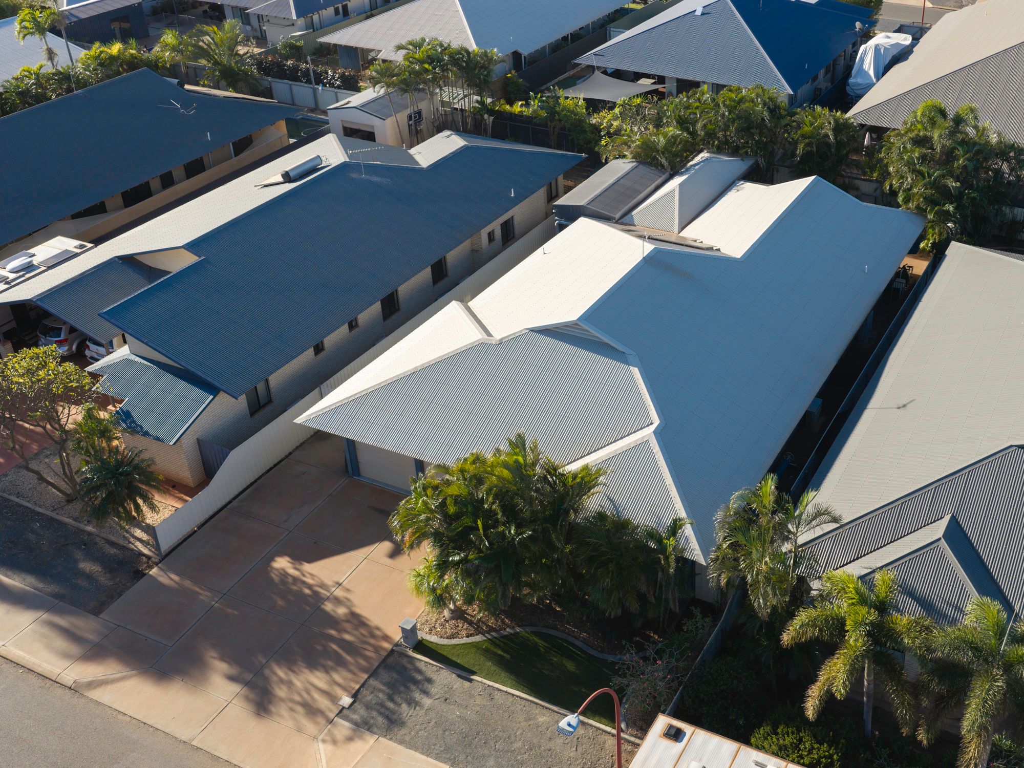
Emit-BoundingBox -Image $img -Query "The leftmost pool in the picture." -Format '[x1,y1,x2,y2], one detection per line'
[275,113,333,146]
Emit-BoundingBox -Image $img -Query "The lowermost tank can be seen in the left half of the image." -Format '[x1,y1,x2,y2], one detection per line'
[273,146,335,177]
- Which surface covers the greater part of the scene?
buildings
